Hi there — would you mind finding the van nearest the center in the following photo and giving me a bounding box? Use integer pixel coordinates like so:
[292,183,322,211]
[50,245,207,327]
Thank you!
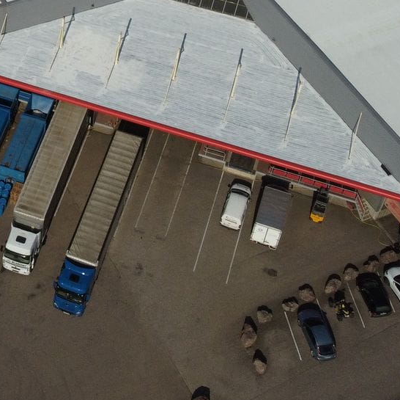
[219,185,254,235]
